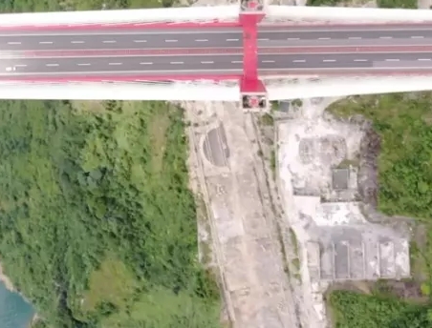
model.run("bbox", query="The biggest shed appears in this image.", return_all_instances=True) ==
[332,169,350,190]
